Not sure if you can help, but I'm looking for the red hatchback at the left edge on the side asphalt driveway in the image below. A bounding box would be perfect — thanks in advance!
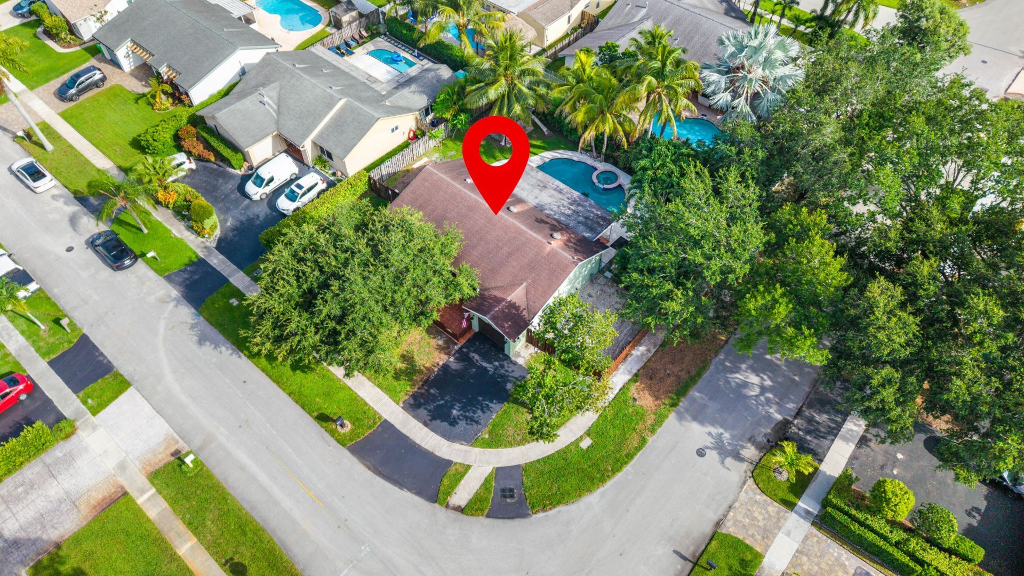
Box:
[0,374,32,418]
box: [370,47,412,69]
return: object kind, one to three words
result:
swimming pool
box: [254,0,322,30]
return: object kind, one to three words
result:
swimming pool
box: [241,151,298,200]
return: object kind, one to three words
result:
van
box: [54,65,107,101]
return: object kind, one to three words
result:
car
